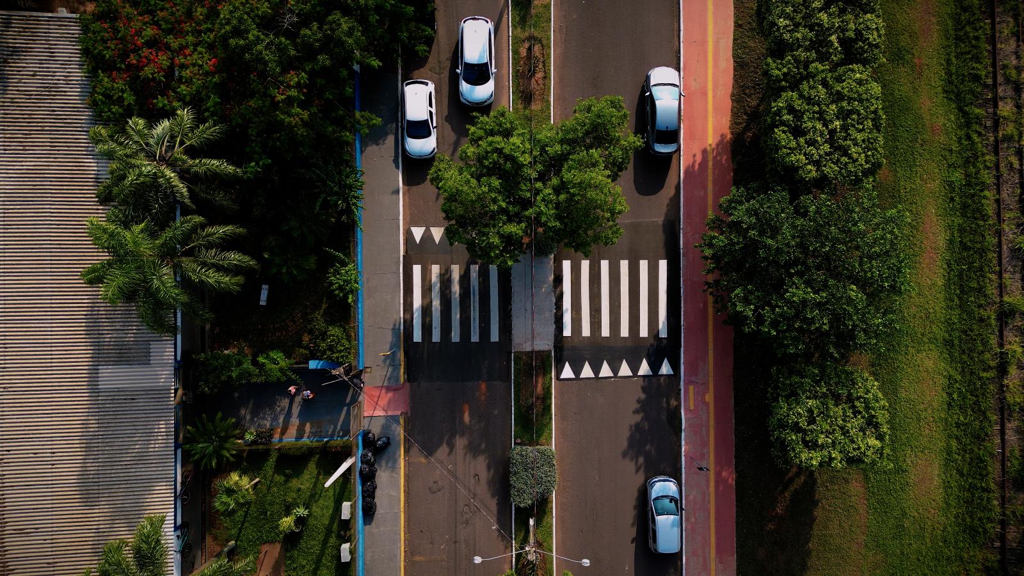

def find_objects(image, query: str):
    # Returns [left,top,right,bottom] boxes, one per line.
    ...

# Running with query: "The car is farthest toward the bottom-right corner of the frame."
[645,473,686,557]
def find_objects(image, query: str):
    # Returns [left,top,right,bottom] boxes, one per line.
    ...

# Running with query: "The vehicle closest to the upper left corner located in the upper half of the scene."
[399,76,440,162]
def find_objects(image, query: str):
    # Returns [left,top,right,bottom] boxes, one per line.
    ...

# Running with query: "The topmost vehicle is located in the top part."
[454,14,498,108]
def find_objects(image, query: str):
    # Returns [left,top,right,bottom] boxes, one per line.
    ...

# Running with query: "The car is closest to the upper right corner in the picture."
[644,68,686,156]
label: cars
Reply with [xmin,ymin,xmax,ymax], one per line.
[454,14,498,108]
[644,68,686,156]
[399,76,440,162]
[645,473,686,557]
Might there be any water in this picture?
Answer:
No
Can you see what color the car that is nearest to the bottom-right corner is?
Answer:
blue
